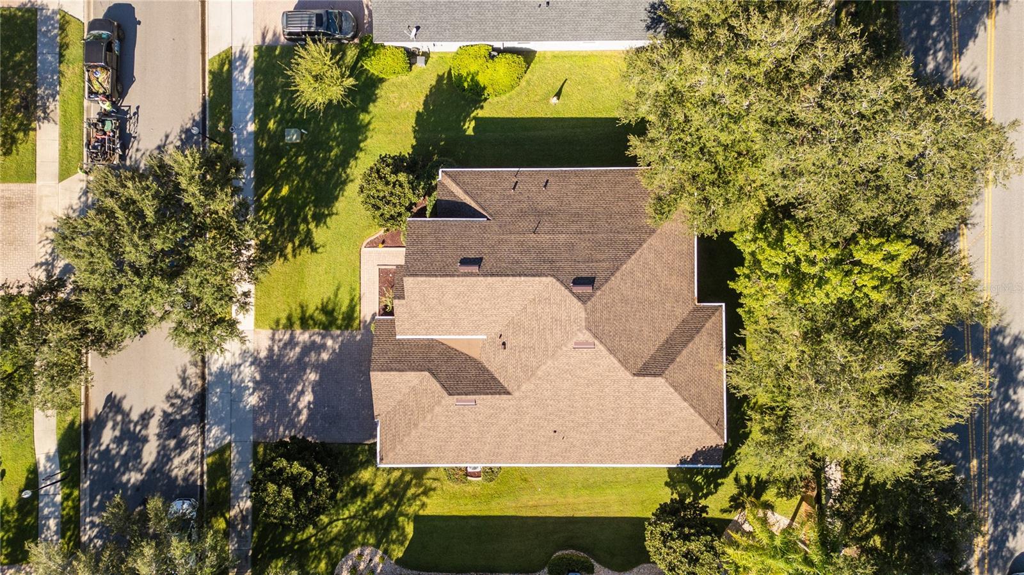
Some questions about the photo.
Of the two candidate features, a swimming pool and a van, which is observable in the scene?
van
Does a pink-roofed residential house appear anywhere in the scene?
No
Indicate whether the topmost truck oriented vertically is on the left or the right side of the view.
left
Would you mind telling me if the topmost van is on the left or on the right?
left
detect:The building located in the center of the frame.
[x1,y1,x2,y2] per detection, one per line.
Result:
[371,166,727,468]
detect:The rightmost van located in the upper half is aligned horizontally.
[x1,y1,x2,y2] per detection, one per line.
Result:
[282,8,358,46]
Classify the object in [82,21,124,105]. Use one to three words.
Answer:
truck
